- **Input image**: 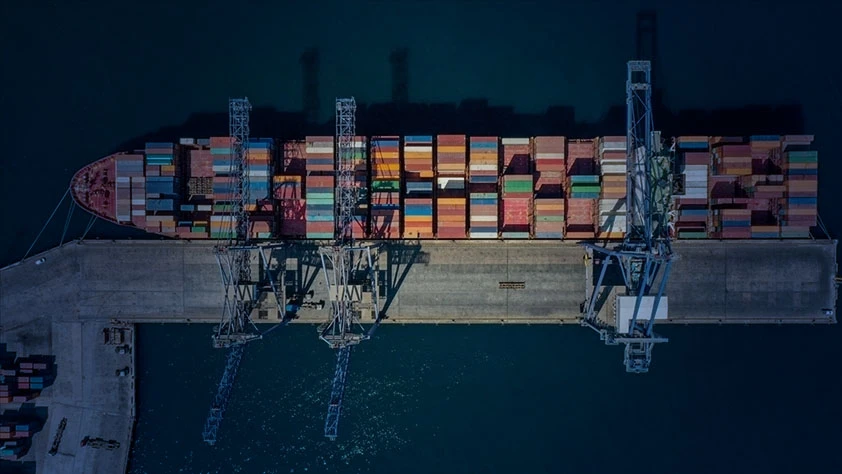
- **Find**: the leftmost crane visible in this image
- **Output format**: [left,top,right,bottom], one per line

[206,97,294,447]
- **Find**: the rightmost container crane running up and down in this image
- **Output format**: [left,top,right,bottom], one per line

[577,61,680,374]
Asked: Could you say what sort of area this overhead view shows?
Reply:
port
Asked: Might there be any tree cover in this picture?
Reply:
No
